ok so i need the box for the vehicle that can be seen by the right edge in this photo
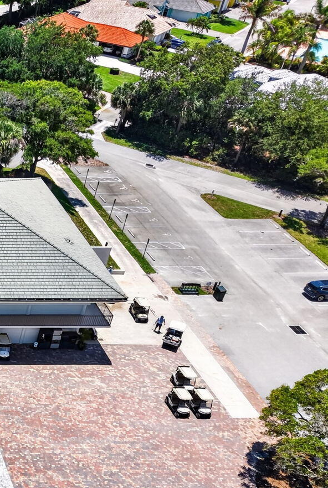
[301,276,328,299]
